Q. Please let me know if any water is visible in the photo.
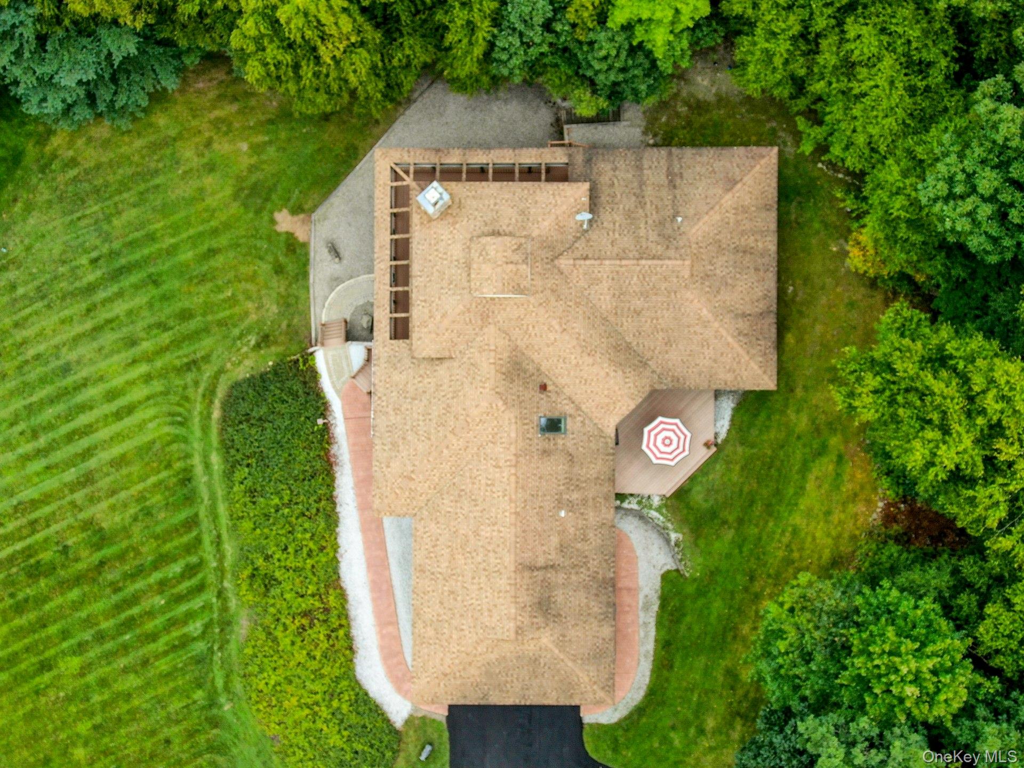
No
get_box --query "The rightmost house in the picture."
[372,146,779,705]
